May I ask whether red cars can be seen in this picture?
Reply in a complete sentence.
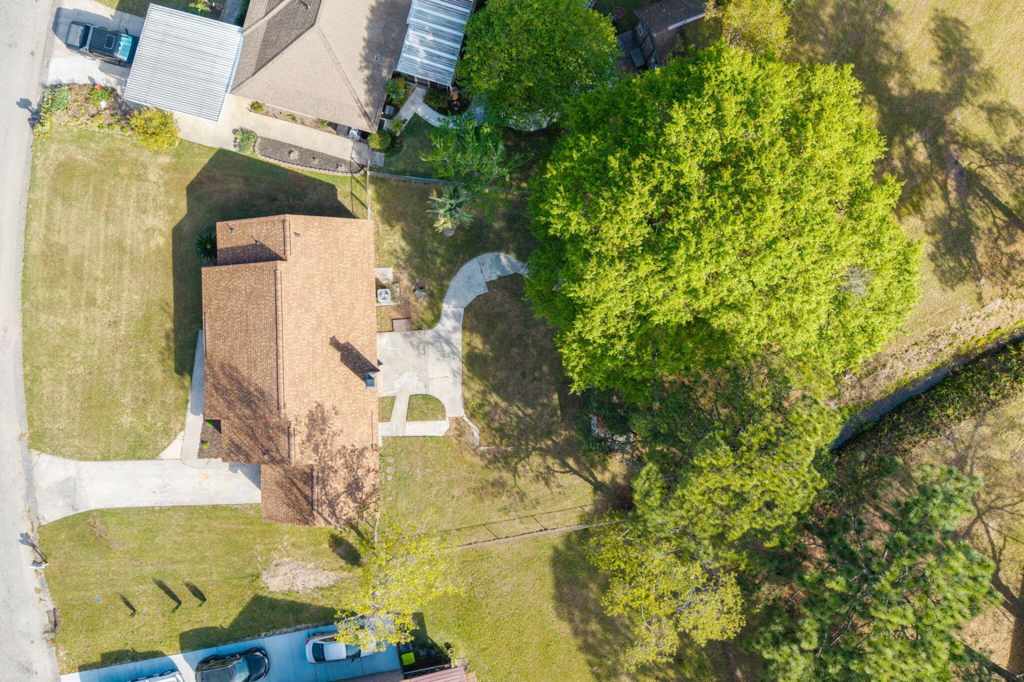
No, no red car is visible in the scene.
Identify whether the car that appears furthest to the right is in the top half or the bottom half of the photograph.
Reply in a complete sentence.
Seen from above, the car that appears furthest to the right lies in the bottom half of the view.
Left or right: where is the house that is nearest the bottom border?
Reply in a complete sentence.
It is on the left.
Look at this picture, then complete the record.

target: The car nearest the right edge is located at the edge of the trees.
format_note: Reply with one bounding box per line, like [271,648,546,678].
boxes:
[302,628,375,665]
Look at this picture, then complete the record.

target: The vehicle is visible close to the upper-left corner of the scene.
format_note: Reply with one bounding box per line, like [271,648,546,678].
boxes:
[48,12,139,66]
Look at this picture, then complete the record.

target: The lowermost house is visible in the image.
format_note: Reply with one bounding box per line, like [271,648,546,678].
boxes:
[200,216,388,531]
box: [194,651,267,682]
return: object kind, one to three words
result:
car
